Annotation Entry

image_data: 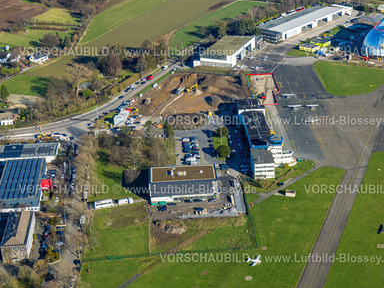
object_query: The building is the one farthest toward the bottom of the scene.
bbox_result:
[1,209,33,261]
